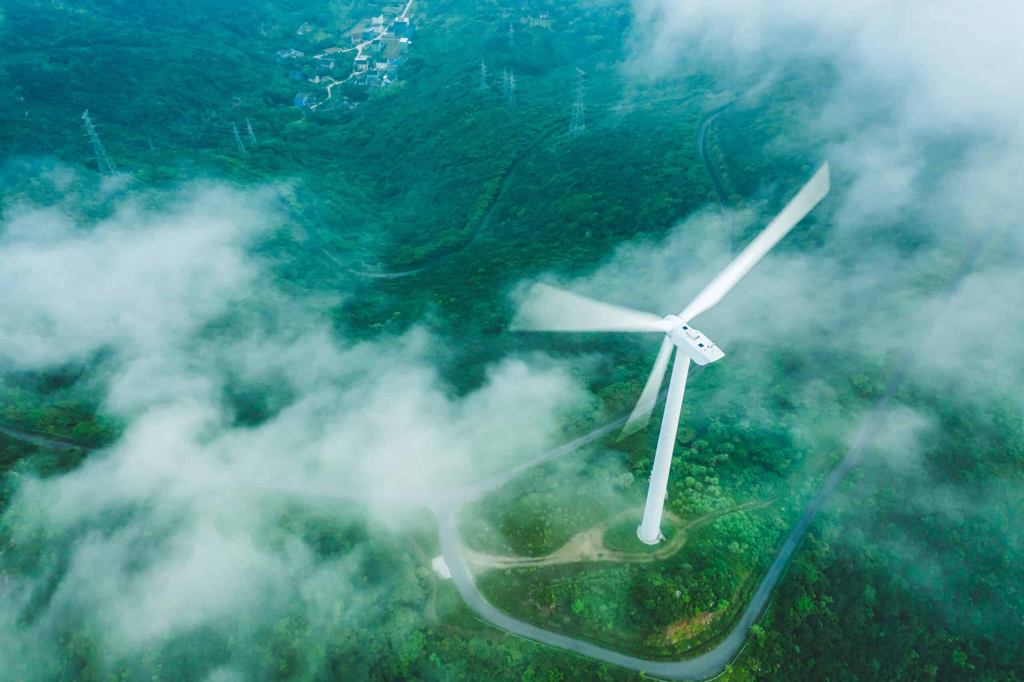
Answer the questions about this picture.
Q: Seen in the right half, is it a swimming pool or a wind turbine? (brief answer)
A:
wind turbine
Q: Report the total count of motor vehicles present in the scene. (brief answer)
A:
0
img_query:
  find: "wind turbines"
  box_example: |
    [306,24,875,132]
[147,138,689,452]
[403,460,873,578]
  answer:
[521,177,827,544]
